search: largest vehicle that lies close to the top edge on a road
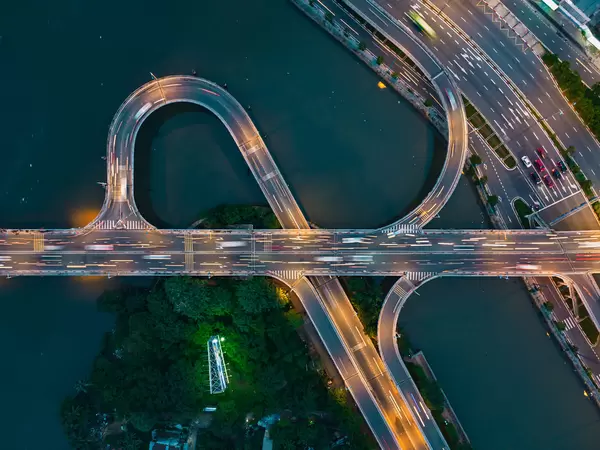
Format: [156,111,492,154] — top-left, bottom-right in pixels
[411,10,438,36]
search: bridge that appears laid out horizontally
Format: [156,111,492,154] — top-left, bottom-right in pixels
[0,229,600,276]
